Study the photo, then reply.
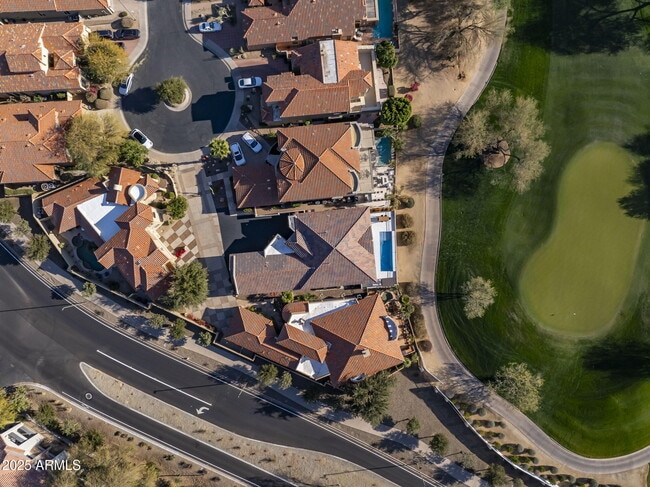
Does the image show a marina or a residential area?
residential area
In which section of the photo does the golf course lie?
right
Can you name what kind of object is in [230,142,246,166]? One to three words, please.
car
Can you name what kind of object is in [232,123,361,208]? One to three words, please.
house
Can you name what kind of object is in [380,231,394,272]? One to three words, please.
swimming pool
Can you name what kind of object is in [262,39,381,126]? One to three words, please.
house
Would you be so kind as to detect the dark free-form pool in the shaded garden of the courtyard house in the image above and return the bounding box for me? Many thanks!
[76,240,107,273]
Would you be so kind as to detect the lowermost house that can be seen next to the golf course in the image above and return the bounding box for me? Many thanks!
[223,293,405,384]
